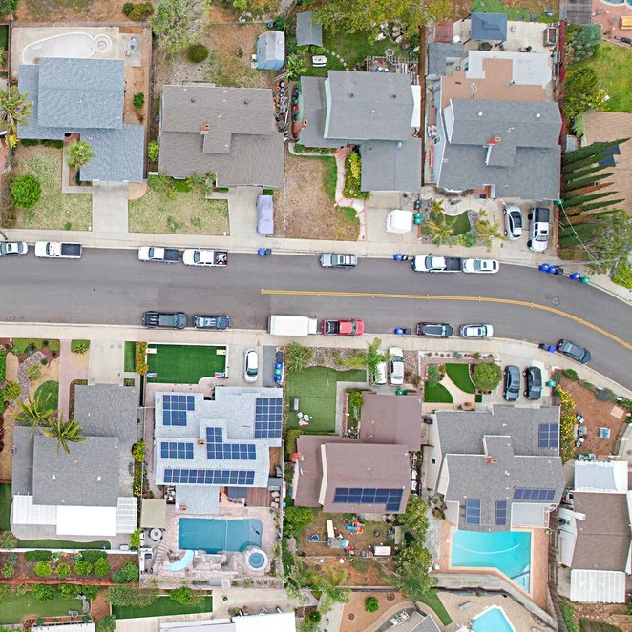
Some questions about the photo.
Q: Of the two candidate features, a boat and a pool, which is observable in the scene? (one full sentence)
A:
Visible in the photo is a pool.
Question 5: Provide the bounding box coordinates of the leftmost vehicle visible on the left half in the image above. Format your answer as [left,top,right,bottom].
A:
[0,240,28,257]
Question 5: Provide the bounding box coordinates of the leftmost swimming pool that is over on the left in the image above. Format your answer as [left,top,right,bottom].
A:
[16,29,98,64]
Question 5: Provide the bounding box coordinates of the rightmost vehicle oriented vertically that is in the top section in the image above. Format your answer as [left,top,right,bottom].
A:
[528,205,550,253]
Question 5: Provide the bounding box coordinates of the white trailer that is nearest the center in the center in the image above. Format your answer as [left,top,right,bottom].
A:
[270,315,328,336]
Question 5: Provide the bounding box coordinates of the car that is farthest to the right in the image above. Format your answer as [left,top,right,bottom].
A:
[554,338,593,366]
